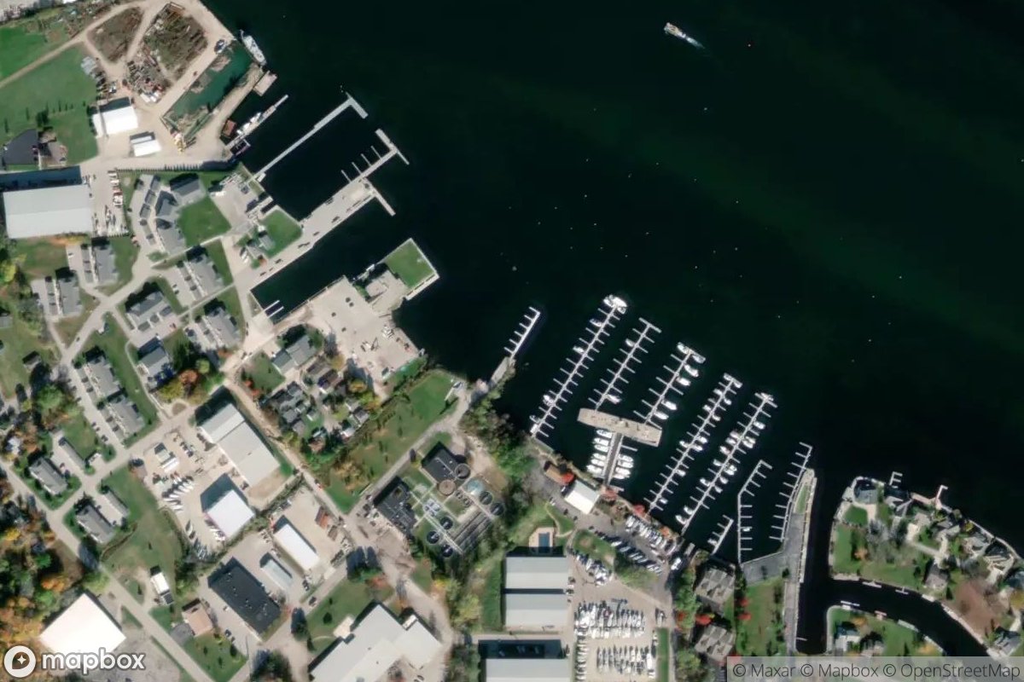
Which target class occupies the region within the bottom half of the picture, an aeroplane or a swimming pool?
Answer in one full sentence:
The one visible within the bottom half of the picture is a swimming pool.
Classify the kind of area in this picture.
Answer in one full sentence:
This looks like a port.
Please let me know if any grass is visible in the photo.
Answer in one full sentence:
Yes, the picture does contain grass.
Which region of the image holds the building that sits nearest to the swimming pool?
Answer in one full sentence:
The building that sits nearest to the swimming pool appears toward the bottom of the photo.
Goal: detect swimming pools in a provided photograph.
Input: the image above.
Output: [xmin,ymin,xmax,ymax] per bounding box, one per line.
[529,528,555,558]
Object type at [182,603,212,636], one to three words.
house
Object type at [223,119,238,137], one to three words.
ship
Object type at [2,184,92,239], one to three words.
building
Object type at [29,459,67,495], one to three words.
building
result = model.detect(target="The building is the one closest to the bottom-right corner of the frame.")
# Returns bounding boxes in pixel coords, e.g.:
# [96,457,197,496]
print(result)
[993,632,1023,659]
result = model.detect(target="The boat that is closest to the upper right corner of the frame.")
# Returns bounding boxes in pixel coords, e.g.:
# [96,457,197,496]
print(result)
[665,24,685,39]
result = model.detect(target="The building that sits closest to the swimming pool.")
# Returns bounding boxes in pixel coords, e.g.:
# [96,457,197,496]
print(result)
[503,557,568,590]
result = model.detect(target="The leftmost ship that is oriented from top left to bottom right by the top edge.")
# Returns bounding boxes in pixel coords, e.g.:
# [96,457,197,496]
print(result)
[240,26,267,63]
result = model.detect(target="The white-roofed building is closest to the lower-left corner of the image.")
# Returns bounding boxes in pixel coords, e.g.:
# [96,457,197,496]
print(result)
[38,594,126,676]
